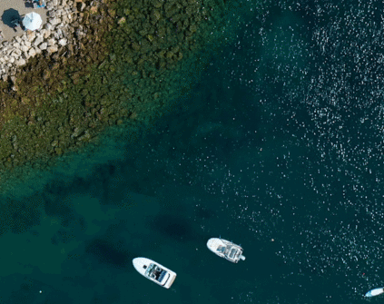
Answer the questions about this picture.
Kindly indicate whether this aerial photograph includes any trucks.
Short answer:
No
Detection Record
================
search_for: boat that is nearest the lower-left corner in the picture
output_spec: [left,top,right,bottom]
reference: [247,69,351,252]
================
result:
[132,256,180,292]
